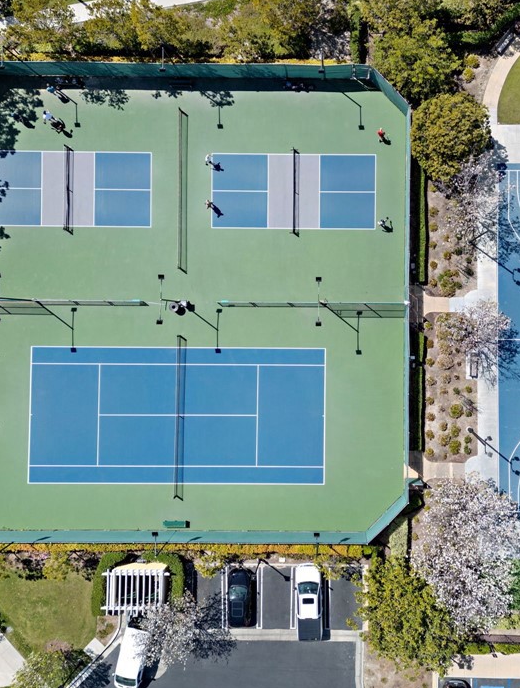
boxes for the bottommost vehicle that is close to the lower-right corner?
[443,674,467,688]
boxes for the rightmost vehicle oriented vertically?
[294,560,324,640]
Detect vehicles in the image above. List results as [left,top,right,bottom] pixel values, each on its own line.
[111,624,149,688]
[225,562,254,624]
[294,560,324,640]
[443,674,467,688]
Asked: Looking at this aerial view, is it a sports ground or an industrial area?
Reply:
sports ground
